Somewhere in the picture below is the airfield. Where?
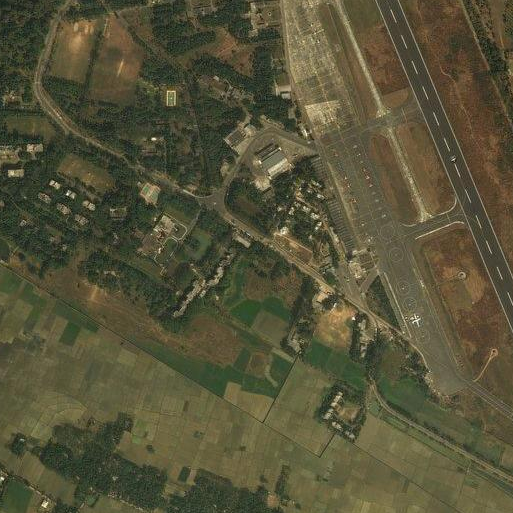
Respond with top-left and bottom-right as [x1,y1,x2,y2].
[285,0,513,421]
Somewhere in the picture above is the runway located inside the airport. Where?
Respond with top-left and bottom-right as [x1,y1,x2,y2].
[374,0,513,333]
